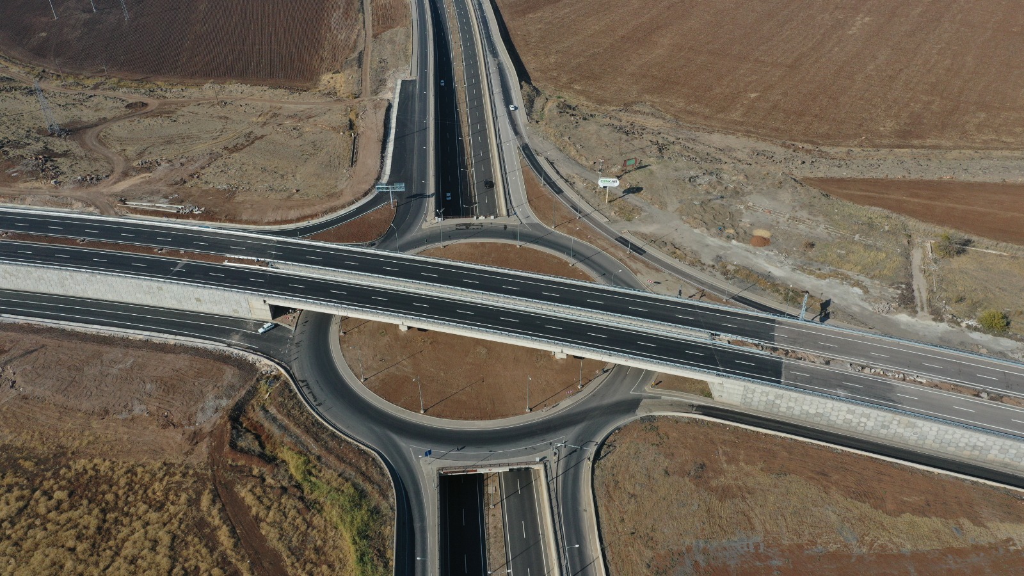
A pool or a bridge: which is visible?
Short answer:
bridge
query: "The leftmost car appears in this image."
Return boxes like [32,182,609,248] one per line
[256,322,275,334]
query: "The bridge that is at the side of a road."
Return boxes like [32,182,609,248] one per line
[226,262,760,409]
